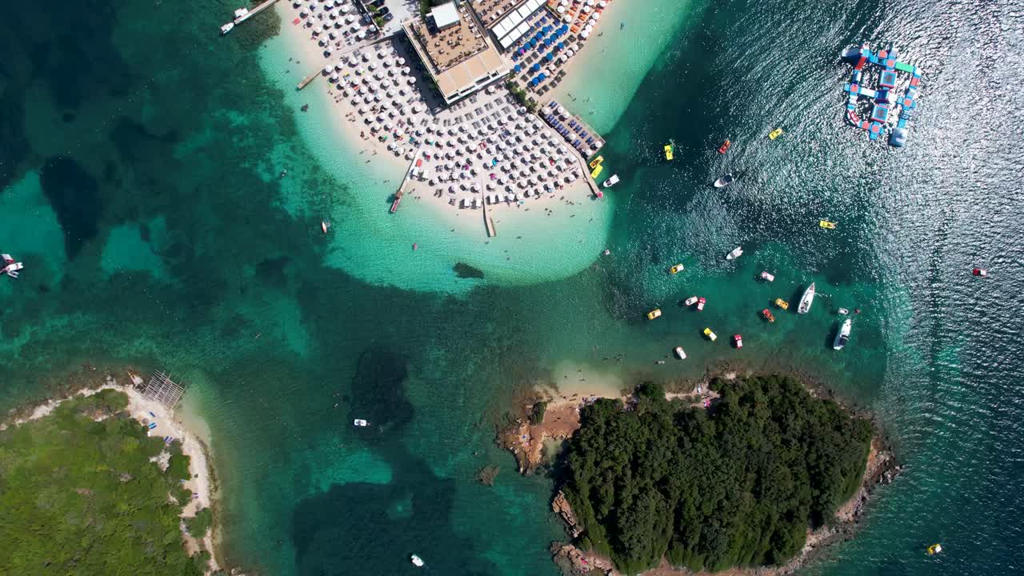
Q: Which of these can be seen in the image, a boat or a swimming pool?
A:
boat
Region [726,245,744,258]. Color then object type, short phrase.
white boat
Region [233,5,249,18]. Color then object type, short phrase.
white boat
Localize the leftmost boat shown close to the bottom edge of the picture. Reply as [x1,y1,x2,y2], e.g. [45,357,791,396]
[409,553,424,566]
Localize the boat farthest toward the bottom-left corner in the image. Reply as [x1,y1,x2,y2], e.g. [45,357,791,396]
[129,371,143,386]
